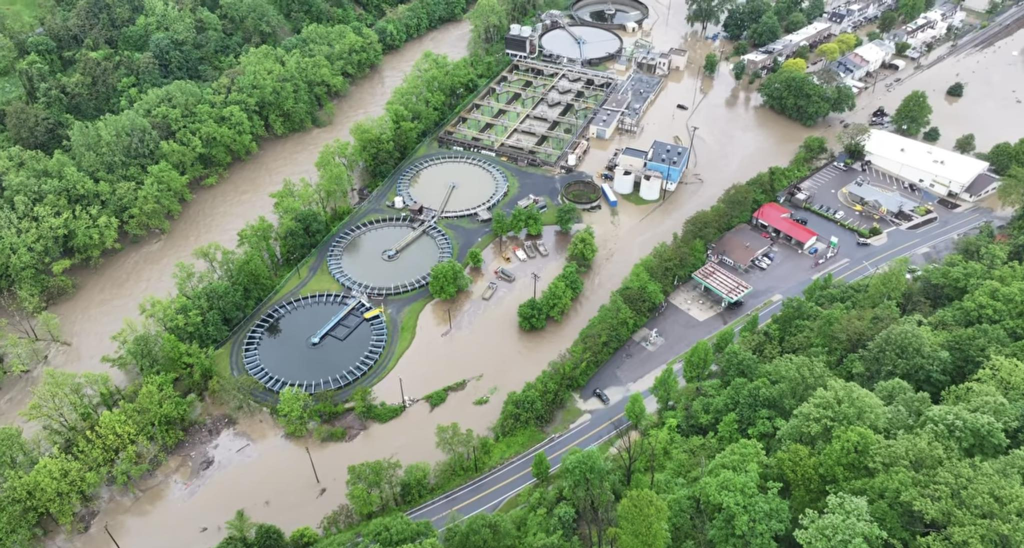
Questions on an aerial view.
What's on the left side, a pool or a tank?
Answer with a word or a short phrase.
tank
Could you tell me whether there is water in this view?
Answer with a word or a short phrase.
Yes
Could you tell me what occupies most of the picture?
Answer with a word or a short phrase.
trees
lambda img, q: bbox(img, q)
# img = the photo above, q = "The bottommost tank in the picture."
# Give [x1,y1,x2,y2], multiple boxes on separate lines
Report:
[241,289,388,397]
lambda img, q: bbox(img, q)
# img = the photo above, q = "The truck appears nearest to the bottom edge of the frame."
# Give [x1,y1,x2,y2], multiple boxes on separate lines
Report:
[591,386,613,407]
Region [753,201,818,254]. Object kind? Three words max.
building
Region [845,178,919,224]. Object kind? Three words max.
building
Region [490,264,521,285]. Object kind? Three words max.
truck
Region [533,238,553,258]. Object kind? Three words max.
vehicle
